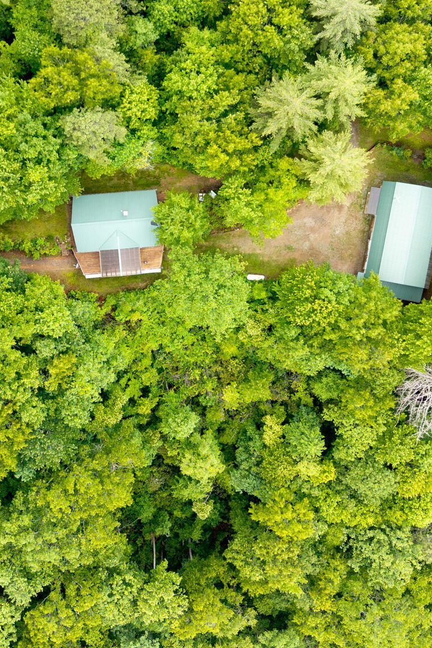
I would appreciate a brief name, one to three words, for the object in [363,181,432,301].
shed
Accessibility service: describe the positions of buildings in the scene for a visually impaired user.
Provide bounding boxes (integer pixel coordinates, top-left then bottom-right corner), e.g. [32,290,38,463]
[70,189,164,278]
[363,181,432,301]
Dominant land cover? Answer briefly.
trees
